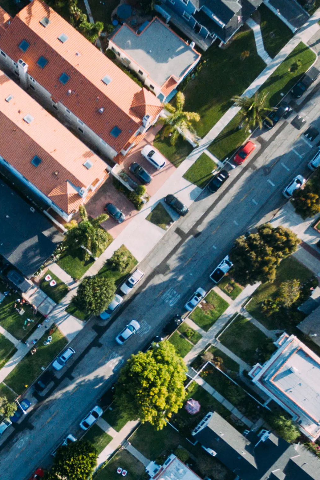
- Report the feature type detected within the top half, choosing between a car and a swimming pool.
car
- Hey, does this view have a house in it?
Yes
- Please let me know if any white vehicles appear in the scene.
Yes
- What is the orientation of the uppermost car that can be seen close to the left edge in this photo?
on a diagonal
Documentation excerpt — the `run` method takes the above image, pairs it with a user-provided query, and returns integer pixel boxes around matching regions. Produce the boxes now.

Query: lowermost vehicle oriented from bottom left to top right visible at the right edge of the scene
[281,173,307,201]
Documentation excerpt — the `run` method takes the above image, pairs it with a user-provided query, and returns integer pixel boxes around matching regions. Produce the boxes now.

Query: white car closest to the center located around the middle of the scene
[120,268,146,295]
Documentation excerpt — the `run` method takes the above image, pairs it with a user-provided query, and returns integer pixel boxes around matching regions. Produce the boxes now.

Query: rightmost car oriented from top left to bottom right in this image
[163,193,189,217]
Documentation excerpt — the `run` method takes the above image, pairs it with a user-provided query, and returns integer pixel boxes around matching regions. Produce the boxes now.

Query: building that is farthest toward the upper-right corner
[262,0,311,37]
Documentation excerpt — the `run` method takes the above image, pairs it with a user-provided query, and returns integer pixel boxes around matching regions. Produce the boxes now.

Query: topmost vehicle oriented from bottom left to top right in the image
[291,66,320,99]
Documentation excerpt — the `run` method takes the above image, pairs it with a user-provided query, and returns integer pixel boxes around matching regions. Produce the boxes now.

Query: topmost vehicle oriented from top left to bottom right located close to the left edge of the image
[3,265,31,291]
